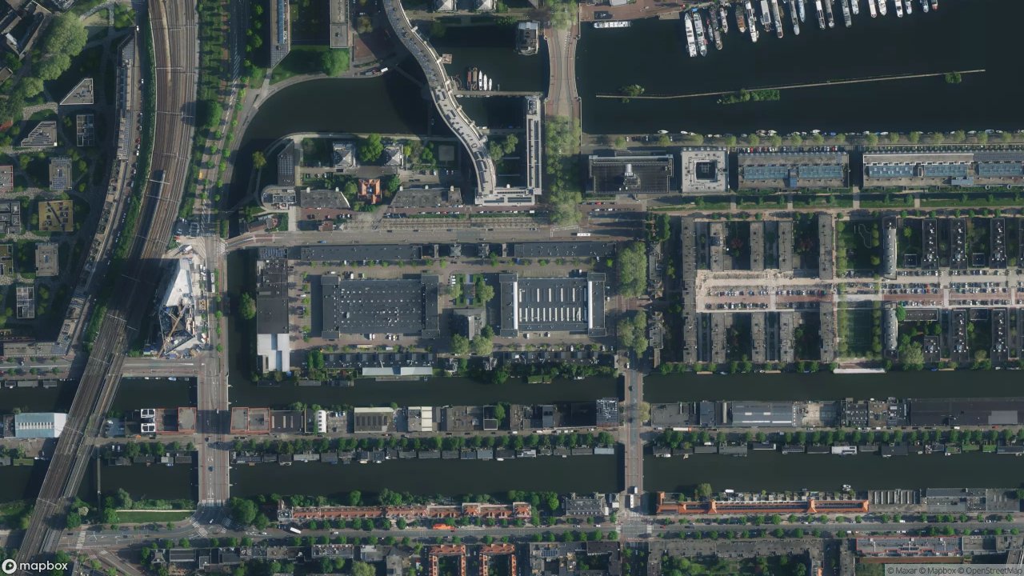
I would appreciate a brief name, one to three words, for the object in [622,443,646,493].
bridge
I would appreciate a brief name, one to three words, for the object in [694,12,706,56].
vessel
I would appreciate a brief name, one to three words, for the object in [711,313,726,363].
building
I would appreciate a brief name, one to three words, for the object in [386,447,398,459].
boat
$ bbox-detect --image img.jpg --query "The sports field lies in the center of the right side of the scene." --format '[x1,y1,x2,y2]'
[846,310,874,357]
